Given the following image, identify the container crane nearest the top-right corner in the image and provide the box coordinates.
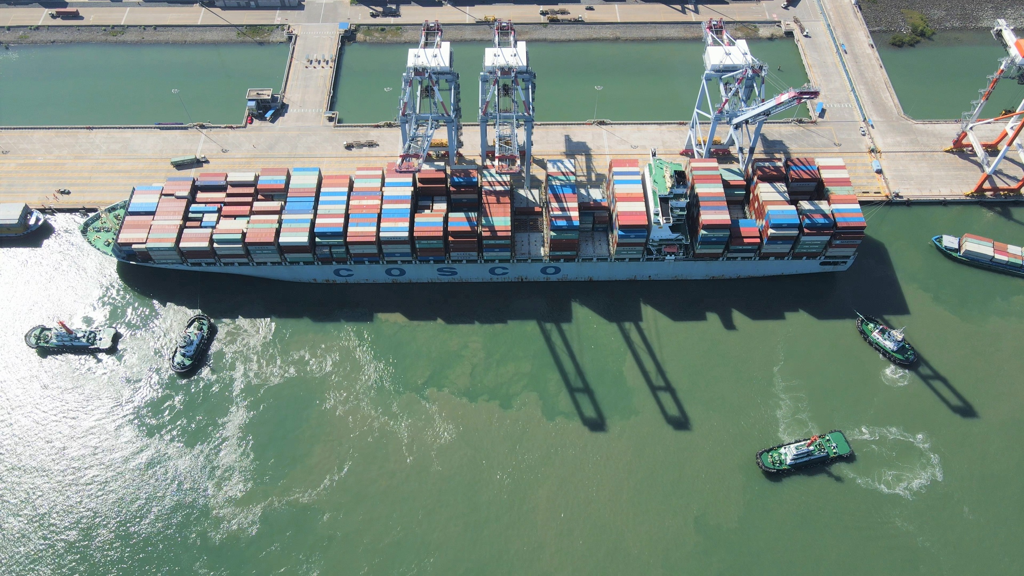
[941,13,1024,195]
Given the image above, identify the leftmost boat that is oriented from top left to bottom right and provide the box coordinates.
[855,314,918,366]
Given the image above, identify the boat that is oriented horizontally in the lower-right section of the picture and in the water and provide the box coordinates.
[755,423,857,471]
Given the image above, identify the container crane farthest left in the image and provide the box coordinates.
[395,15,472,171]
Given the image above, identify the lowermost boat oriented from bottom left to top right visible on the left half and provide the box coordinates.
[169,312,215,372]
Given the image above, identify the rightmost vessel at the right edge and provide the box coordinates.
[923,230,1024,278]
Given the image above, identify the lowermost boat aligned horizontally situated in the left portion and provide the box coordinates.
[22,306,122,352]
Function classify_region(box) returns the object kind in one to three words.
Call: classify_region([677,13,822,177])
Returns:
container crane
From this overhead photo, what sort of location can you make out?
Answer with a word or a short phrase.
port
